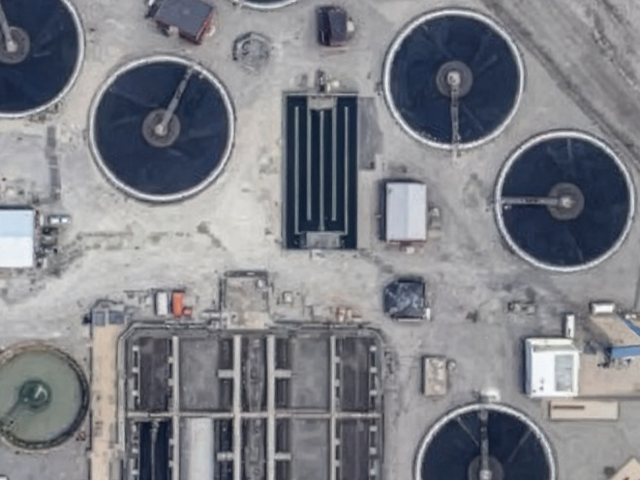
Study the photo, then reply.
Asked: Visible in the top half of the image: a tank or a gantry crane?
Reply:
tank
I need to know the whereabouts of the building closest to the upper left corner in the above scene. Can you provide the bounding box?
[149,0,217,40]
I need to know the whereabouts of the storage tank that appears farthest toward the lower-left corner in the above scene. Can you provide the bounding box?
[0,342,92,452]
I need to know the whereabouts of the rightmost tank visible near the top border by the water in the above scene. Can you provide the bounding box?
[381,7,527,155]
